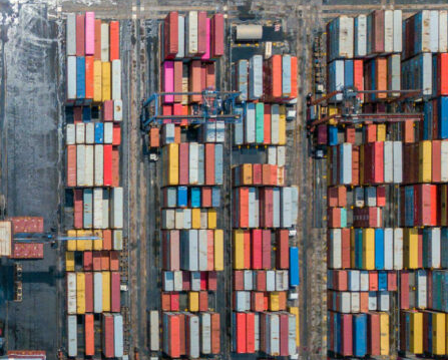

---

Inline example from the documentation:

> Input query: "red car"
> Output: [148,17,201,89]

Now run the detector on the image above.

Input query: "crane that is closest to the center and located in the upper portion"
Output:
[145,93,244,137]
